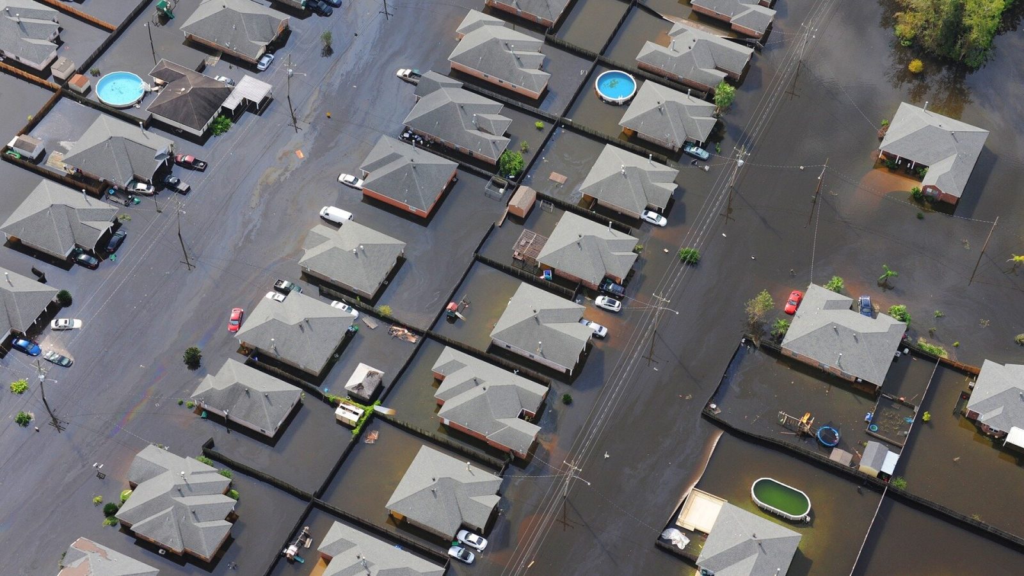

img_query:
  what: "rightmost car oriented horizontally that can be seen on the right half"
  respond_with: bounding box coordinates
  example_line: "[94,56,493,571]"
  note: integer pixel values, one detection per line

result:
[682,146,710,161]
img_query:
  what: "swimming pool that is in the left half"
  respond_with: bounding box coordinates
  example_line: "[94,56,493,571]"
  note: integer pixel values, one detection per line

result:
[97,71,151,113]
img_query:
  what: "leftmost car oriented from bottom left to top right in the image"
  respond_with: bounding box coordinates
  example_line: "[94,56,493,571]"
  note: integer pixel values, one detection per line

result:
[103,231,129,254]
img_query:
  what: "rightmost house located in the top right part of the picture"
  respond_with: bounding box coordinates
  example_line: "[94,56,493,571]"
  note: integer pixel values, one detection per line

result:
[877,101,989,207]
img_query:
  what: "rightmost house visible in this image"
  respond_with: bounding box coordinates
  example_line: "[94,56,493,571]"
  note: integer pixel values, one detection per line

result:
[963,358,1024,441]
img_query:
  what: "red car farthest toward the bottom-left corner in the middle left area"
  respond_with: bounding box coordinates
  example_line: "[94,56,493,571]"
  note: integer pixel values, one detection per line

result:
[228,308,243,334]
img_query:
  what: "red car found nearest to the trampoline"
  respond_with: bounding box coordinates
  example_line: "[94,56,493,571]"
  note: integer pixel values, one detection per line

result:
[785,291,802,315]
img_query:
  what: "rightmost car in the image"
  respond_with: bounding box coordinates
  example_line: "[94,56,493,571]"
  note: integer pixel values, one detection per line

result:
[859,294,874,317]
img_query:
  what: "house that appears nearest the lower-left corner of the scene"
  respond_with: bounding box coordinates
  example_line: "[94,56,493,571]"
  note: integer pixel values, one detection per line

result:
[60,536,159,576]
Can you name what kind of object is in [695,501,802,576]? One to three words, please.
house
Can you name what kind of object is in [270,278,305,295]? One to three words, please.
vehicle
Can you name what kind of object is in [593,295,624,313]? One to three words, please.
car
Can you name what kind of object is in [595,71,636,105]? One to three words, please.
swimming pool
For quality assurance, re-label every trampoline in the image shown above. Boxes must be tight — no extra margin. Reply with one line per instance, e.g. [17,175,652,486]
[816,427,838,450]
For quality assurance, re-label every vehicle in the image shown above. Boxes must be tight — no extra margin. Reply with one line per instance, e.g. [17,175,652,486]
[51,318,82,332]
[337,176,365,193]
[859,294,874,317]
[455,531,489,552]
[261,290,286,303]
[307,1,333,16]
[212,74,237,87]
[639,211,668,228]
[270,278,305,295]
[161,176,194,196]
[446,547,478,566]
[12,339,42,357]
[71,254,102,270]
[174,157,207,175]
[581,319,609,338]
[43,352,75,371]
[228,308,243,334]
[126,183,156,198]
[597,282,628,299]
[255,53,277,73]
[103,231,129,254]
[682,146,710,161]
[331,300,359,320]
[319,206,354,224]
[593,295,624,313]
[785,291,802,315]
